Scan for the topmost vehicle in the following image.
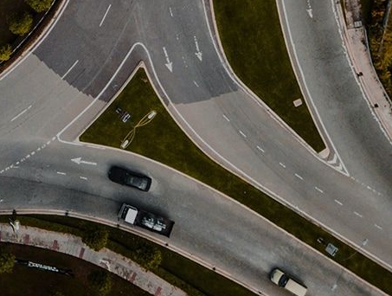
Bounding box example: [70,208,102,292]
[106,166,153,192]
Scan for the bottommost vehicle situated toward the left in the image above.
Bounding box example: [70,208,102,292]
[117,204,172,238]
